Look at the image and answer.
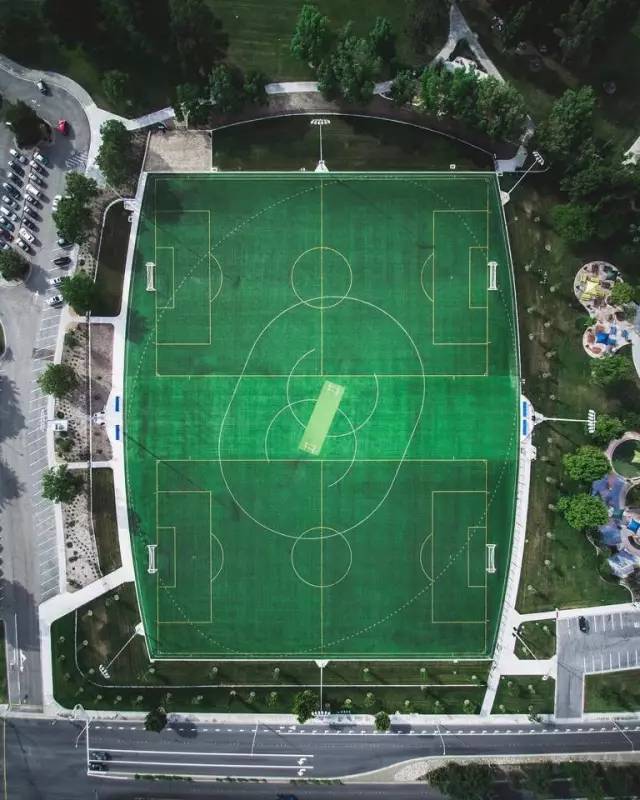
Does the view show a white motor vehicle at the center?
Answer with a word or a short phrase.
No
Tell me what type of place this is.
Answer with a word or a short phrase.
sports ground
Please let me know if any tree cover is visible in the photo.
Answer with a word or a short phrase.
Yes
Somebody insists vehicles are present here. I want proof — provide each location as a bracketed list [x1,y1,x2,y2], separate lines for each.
[90,762,106,771]
[0,216,16,230]
[59,120,67,136]
[0,227,14,242]
[23,204,39,219]
[10,150,29,167]
[56,240,72,248]
[577,615,588,633]
[32,150,49,166]
[54,256,72,266]
[0,204,20,221]
[3,182,23,199]
[91,750,109,759]
[22,216,37,230]
[28,171,45,186]
[3,195,20,210]
[7,171,23,186]
[24,182,42,198]
[46,294,64,305]
[18,227,36,244]
[30,160,46,174]
[16,238,31,253]
[24,194,41,209]
[52,193,63,210]
[8,161,25,177]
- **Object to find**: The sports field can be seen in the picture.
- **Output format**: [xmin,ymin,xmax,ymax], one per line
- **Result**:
[123,173,520,659]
